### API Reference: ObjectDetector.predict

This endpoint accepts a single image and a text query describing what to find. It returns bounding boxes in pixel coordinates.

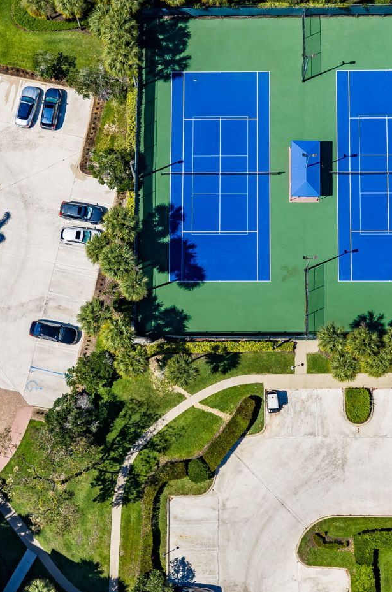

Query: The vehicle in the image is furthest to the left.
[14,86,41,128]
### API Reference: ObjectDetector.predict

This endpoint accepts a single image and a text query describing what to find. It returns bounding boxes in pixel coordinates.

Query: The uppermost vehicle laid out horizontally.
[57,200,104,226]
